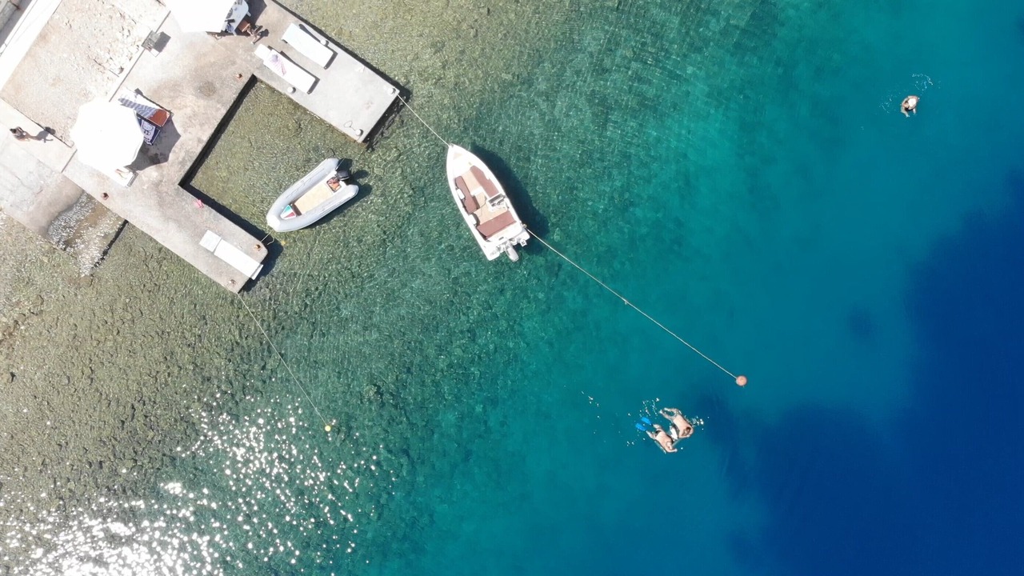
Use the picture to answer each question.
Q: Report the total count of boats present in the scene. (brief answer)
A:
two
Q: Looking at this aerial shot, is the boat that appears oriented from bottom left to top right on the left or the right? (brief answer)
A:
left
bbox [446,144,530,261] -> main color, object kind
white boat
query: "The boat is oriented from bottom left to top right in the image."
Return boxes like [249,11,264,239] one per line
[262,154,363,234]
